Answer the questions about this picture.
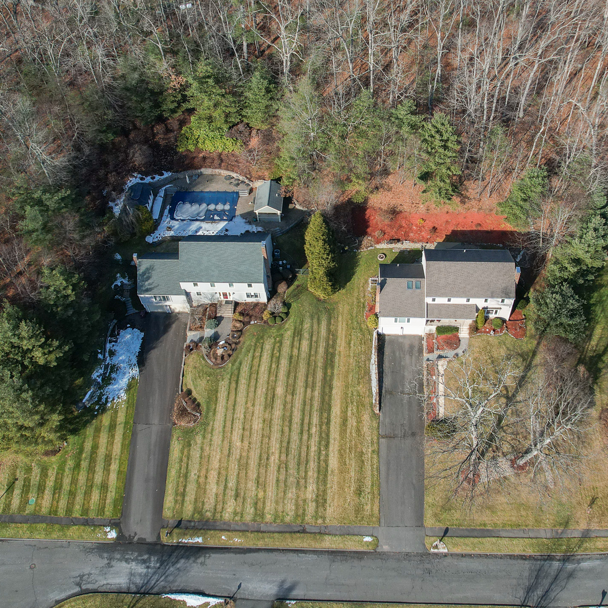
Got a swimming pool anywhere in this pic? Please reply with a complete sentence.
Yes, I can see a swimming pool in this picture.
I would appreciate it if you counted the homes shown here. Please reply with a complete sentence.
Looking from above, you can make out 2 homes.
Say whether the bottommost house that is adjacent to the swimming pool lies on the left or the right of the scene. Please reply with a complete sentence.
The bottommost house that is adjacent to the swimming pool appears in the left half of the scene.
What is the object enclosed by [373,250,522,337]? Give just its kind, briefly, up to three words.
house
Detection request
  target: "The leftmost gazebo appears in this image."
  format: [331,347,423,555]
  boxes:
[124,186,155,218]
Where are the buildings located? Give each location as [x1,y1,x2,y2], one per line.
[373,250,522,337]
[254,183,282,221]
[132,234,273,321]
